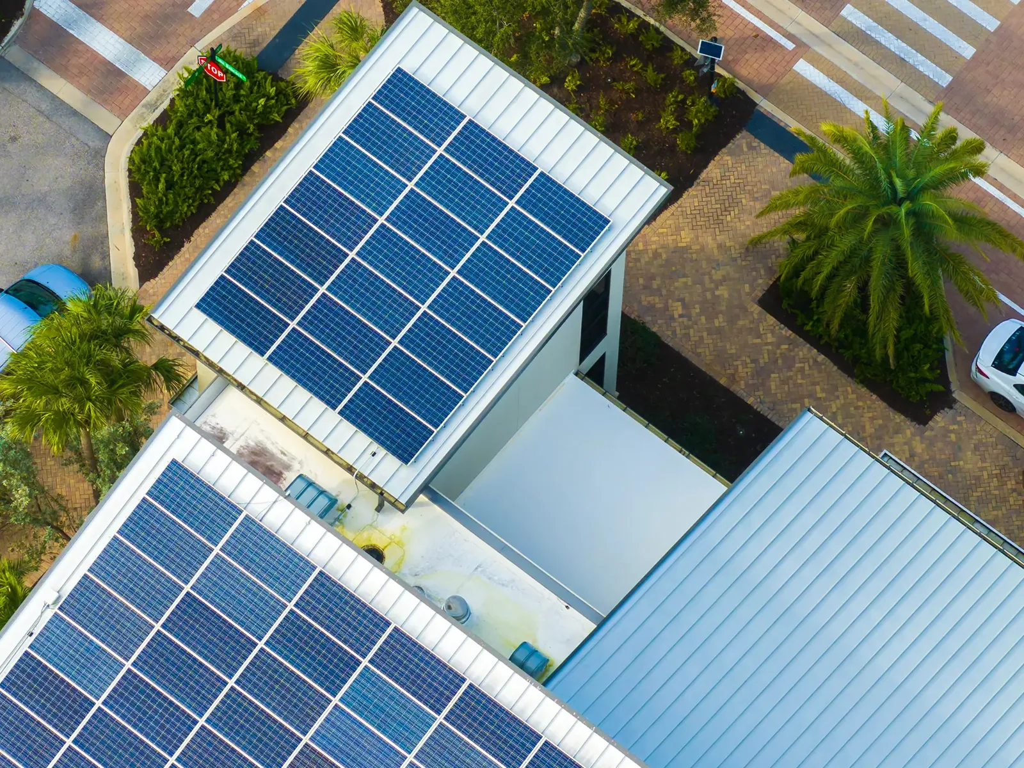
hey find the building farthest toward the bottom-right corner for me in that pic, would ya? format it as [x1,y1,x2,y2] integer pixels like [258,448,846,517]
[543,405,1024,768]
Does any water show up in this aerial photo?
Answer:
No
